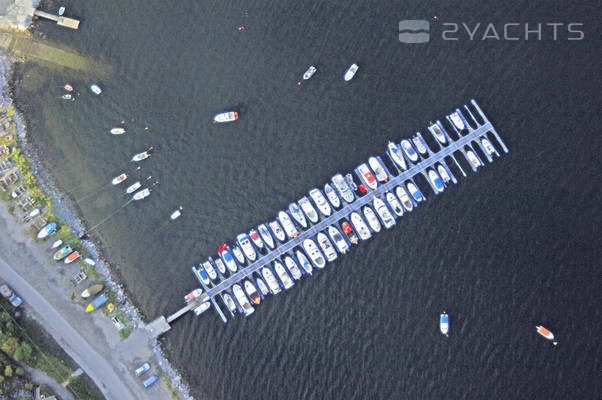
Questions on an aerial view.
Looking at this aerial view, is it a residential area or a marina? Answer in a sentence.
This looks like a marina.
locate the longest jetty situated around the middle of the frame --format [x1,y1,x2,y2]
[192,99,507,322]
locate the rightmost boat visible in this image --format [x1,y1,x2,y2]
[537,325,554,339]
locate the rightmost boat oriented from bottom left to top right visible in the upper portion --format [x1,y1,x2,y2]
[345,63,359,80]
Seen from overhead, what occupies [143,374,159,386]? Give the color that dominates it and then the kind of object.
blue vehicle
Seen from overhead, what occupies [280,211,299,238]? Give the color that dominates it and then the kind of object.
white boat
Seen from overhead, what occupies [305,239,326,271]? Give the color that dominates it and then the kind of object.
white boat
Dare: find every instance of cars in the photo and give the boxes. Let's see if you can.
[0,283,13,299]
[143,374,159,386]
[135,362,151,375]
[9,294,22,307]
